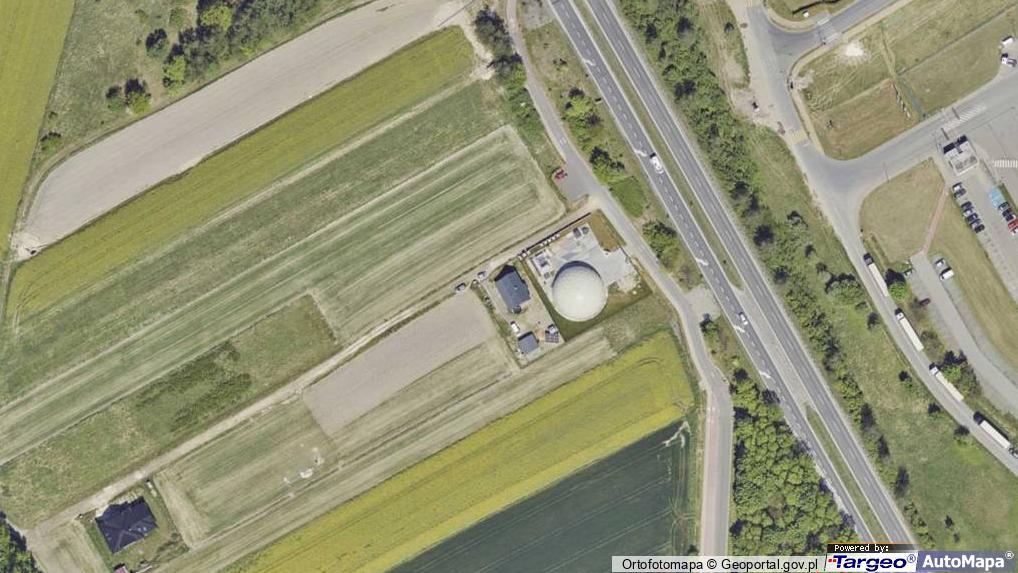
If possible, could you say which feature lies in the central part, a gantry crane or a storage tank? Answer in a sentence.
You can see a storage tank in the central part.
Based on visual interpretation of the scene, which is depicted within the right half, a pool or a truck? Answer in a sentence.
Looking within the right half, you will find a truck.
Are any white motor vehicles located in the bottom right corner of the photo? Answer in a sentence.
Yes, I can see a white motor vehicle in the bottom right corner of the photo.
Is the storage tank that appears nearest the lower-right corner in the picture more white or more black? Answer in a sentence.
The storage tank that appears nearest the lower-right corner is white.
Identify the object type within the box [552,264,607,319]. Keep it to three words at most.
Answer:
storage tank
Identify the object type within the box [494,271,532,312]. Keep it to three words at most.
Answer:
house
